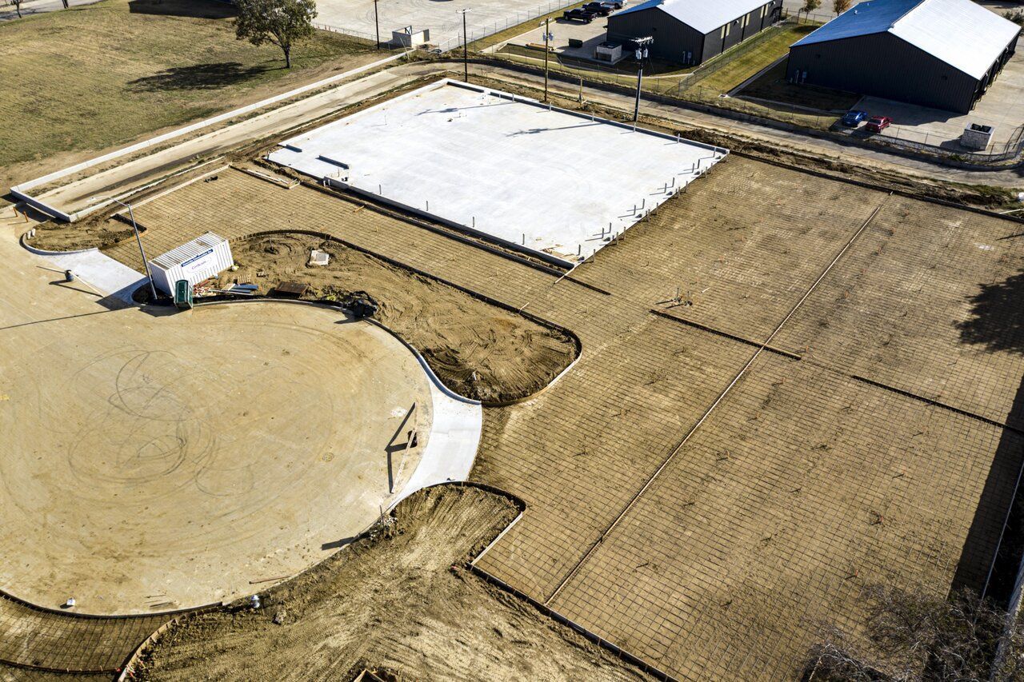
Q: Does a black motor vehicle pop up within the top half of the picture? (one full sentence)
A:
Yes, a black motor vehicle shows up within the top half of the picture.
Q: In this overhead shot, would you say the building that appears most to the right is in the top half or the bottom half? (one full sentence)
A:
Seen from above, the building that appears most to the right lies in the top half of the view.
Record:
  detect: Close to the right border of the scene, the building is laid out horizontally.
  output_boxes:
[784,0,1024,114]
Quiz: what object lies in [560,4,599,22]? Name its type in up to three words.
vehicle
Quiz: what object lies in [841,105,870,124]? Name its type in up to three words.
car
